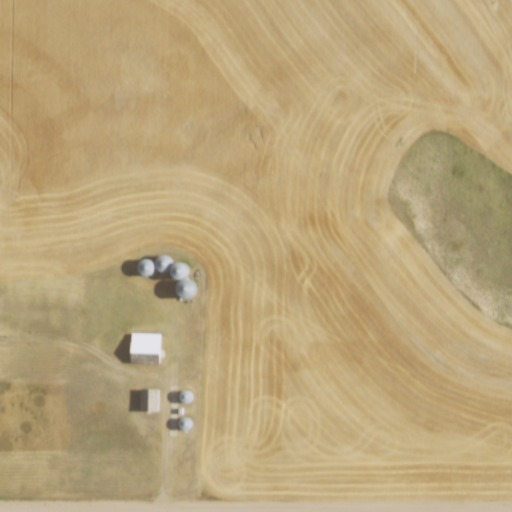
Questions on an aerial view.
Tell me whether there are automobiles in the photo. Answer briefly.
No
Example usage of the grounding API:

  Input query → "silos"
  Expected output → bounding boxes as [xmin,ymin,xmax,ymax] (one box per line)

[155,255,174,272]
[180,390,196,404]
[170,262,190,280]
[179,416,194,434]
[138,259,156,276]
[176,279,198,300]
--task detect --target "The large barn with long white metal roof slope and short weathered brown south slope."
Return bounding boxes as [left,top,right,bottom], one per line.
[130,333,160,364]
